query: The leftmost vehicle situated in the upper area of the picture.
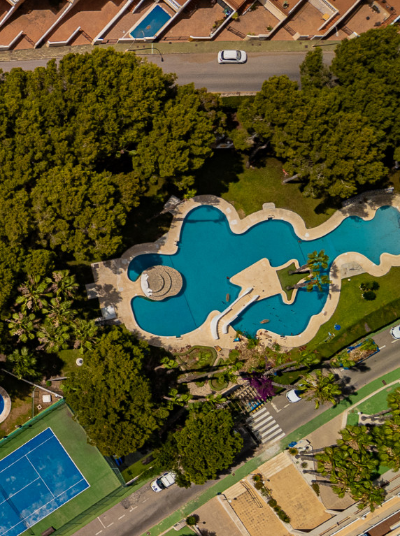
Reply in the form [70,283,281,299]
[220,47,248,62]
